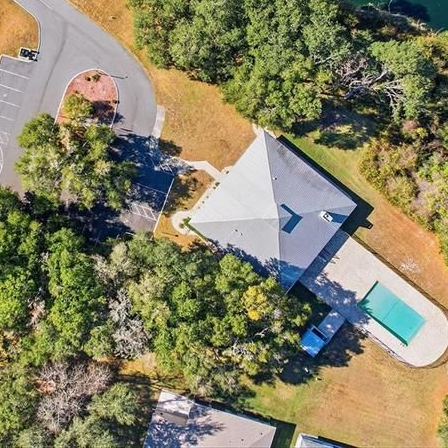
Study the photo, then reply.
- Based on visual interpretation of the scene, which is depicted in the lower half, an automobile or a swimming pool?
swimming pool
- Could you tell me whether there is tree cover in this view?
Yes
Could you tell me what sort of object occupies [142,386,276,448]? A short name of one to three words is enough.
house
